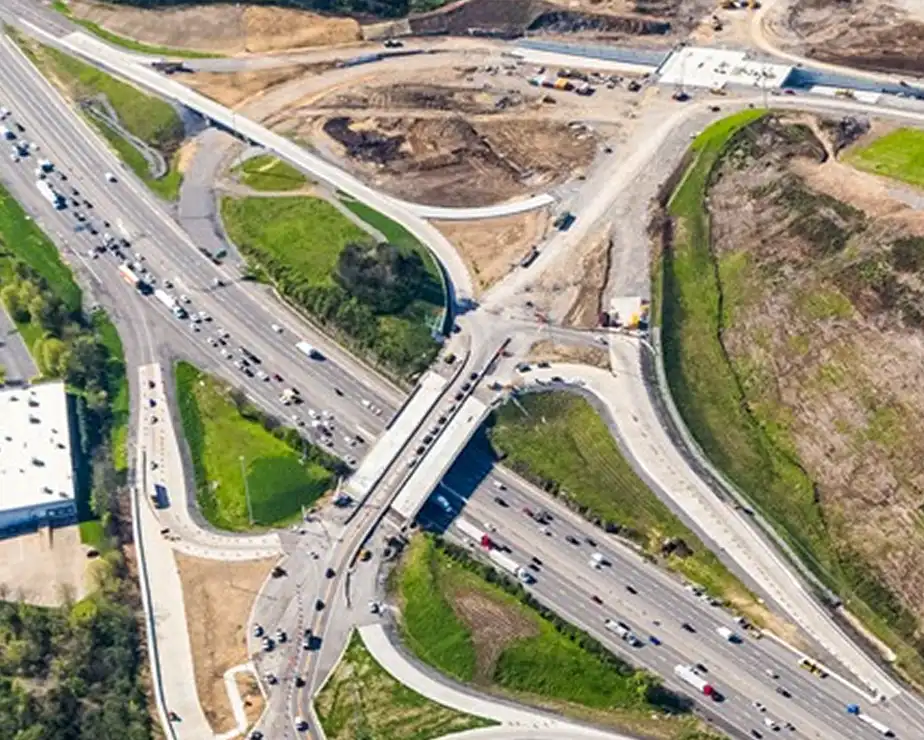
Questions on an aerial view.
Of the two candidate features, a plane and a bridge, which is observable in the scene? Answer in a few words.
bridge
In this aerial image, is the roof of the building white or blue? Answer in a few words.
white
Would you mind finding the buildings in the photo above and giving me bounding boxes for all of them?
[0,382,78,522]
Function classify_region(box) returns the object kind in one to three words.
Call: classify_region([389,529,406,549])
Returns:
work vehicle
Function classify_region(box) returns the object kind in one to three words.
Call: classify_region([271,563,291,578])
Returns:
work vehicle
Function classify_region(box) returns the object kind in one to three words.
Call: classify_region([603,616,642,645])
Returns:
truck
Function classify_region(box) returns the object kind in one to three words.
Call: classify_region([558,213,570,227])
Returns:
vehicle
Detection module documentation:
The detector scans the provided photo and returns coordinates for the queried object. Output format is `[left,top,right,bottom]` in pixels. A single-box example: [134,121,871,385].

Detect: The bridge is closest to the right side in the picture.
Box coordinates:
[657,42,791,89]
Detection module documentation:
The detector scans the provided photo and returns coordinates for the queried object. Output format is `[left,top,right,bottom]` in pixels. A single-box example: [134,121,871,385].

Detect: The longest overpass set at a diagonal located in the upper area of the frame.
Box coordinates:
[59,30,489,326]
